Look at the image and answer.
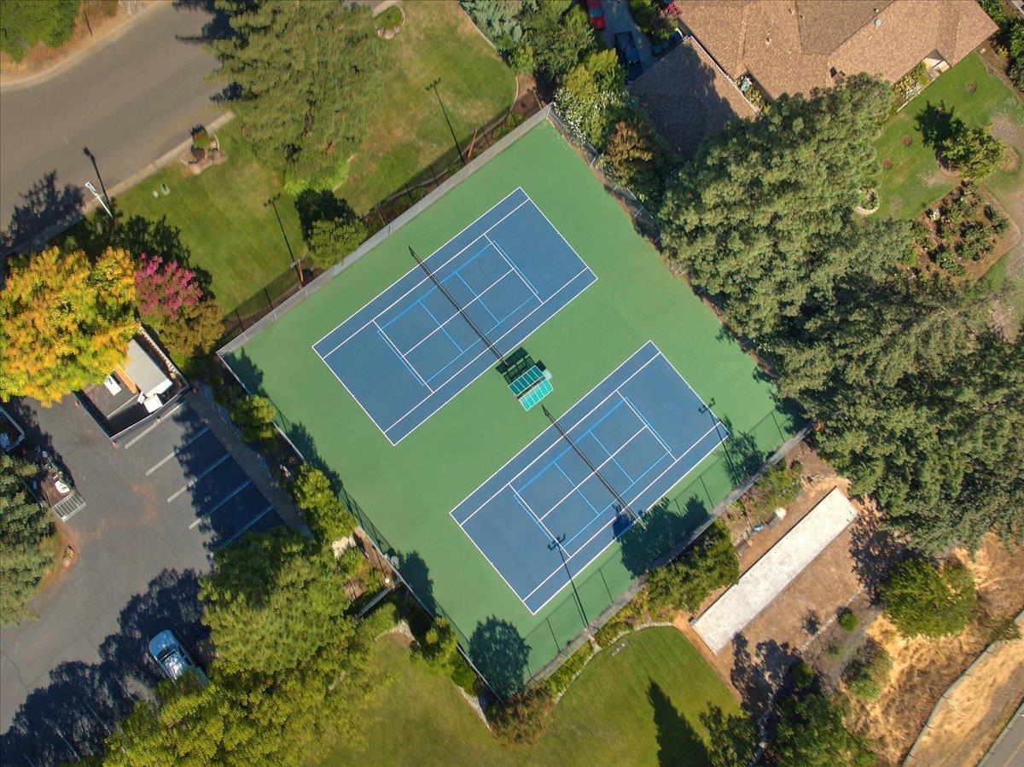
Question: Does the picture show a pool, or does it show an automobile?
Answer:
automobile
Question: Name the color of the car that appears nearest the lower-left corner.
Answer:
blue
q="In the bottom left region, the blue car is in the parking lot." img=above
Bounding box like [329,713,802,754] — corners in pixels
[149,624,201,694]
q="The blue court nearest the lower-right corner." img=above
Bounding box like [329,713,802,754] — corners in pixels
[450,341,729,613]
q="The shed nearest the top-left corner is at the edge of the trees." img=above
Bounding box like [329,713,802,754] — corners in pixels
[123,338,176,397]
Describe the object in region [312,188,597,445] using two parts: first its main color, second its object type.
blue tennis court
